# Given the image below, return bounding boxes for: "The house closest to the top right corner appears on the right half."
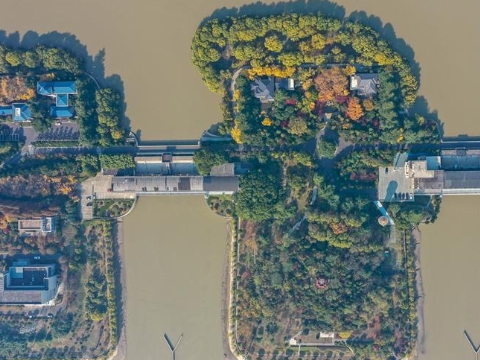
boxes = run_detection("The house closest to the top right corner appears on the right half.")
[350,73,377,96]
